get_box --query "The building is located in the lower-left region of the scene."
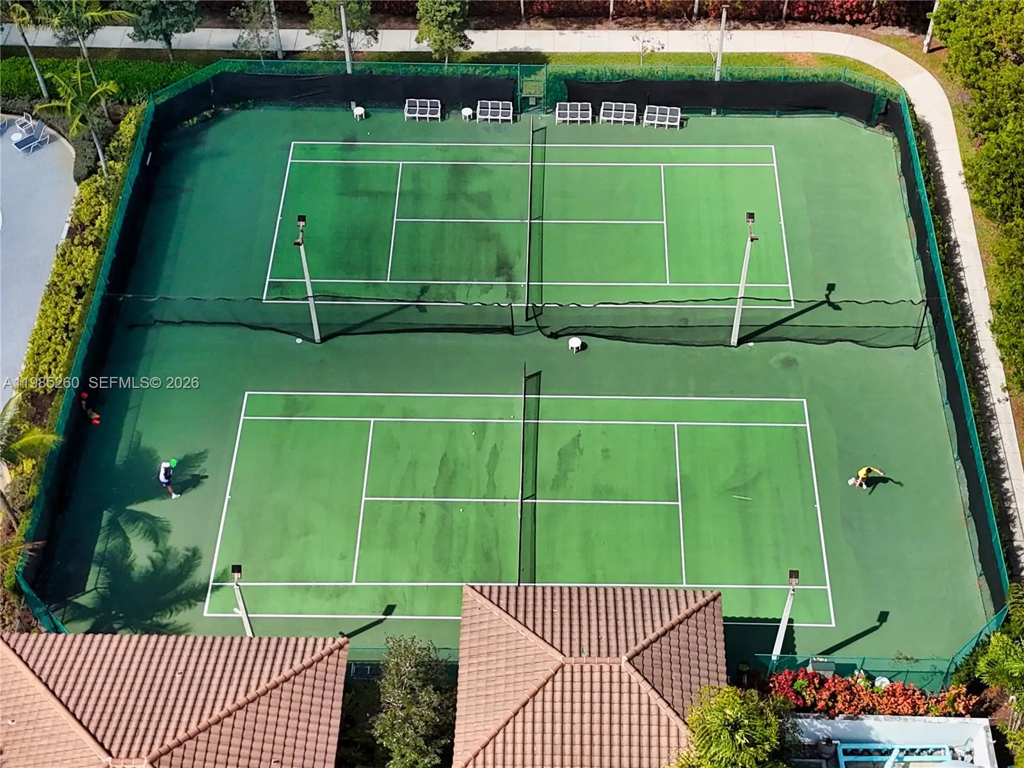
[0,626,353,768]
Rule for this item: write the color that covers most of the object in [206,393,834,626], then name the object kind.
green tennis court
